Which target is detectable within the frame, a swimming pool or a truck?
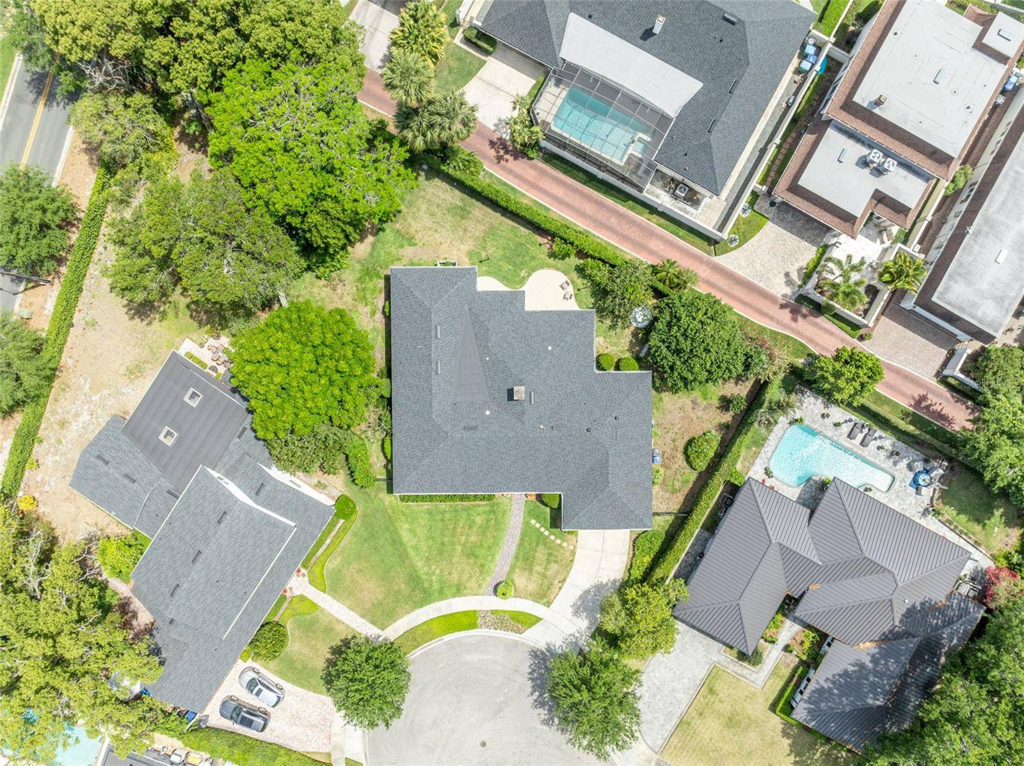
swimming pool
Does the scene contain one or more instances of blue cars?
No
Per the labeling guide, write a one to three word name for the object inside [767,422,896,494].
swimming pool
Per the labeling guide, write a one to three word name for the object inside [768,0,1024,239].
house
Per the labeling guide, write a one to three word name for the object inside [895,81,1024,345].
house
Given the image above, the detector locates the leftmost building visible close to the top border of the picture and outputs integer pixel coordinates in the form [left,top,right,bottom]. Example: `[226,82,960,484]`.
[473,0,817,196]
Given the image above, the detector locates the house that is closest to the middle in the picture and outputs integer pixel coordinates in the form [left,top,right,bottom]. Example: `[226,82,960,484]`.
[389,265,653,531]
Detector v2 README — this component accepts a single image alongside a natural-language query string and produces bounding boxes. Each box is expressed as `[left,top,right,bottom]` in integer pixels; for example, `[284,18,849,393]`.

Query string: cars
[216,693,274,737]
[235,667,288,710]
